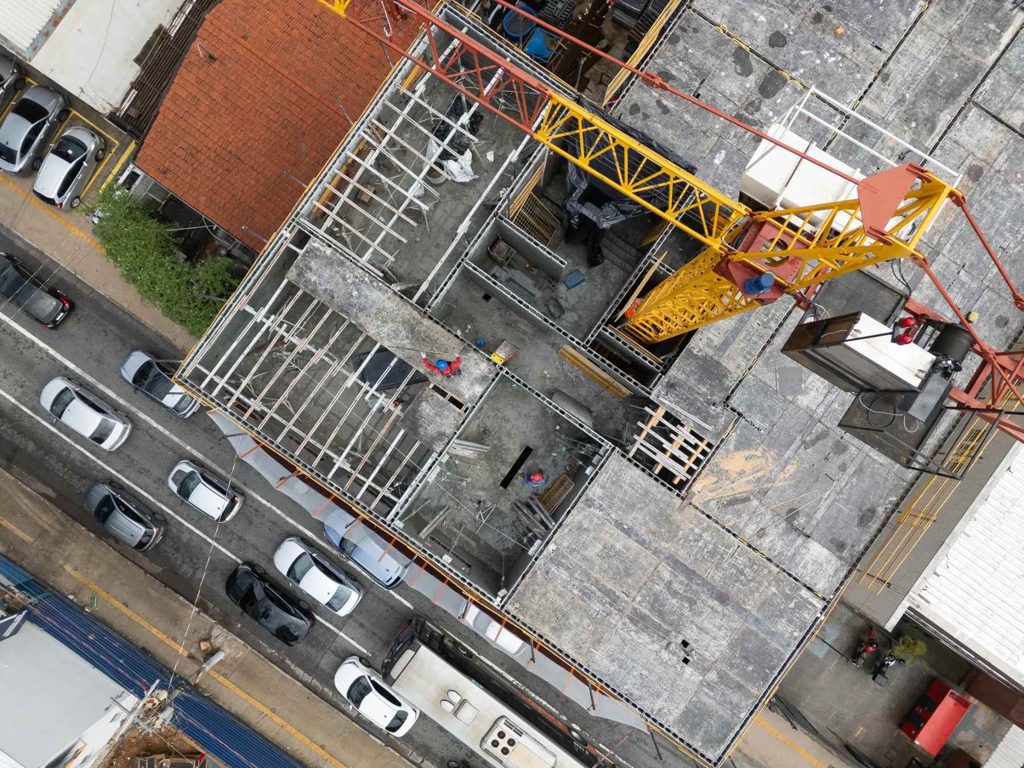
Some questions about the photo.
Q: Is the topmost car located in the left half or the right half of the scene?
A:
left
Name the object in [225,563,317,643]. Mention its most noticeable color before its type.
black car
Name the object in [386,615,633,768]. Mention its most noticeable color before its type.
white bus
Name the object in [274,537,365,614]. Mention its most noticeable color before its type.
white car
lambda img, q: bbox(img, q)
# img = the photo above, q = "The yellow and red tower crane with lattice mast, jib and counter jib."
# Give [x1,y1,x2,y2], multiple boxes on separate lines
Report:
[310,0,1024,481]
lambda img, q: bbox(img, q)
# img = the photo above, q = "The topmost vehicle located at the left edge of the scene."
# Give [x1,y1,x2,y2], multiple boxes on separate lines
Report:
[0,47,41,130]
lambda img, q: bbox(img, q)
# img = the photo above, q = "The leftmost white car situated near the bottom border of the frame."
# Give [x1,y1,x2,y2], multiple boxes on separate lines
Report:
[334,656,420,734]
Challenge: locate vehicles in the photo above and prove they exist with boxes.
[320,519,403,587]
[119,349,209,423]
[0,248,79,329]
[274,537,365,614]
[225,563,317,643]
[29,128,110,209]
[84,479,172,553]
[334,656,420,734]
[0,86,78,177]
[386,615,633,768]
[452,612,523,666]
[0,47,41,130]
[872,647,904,694]
[43,376,136,451]
[852,628,882,669]
[168,457,247,524]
